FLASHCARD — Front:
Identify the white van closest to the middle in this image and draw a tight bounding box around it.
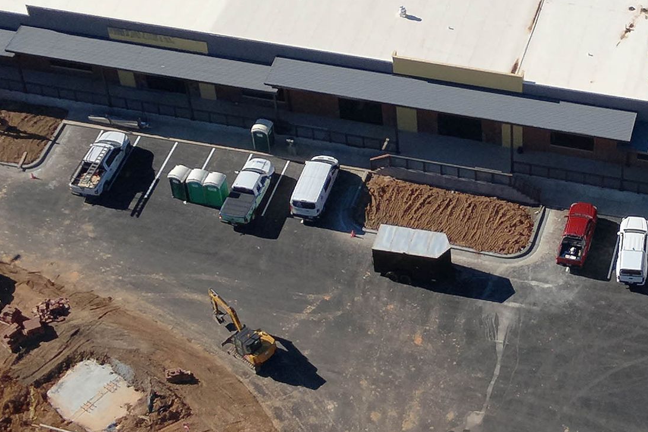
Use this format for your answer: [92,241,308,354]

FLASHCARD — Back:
[292,159,341,219]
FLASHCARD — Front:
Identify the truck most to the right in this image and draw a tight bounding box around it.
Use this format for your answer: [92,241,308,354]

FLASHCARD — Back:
[616,217,648,288]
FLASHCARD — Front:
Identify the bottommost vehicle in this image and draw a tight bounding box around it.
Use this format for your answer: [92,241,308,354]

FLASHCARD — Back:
[213,281,283,384]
